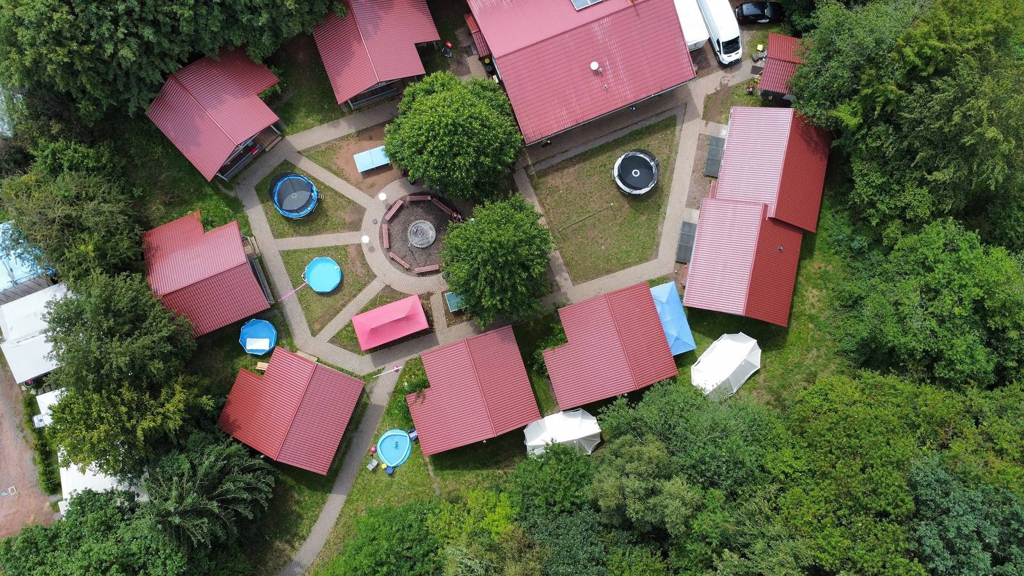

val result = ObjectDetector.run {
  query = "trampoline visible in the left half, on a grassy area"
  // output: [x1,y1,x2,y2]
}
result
[265,169,327,220]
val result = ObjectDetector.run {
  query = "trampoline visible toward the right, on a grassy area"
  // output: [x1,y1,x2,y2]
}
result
[611,145,663,196]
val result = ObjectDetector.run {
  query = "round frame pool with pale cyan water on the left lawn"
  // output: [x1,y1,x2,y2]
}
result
[299,257,343,294]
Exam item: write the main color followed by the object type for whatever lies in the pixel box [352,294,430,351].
pink gazebo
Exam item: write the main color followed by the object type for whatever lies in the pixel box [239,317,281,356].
blue swimming pool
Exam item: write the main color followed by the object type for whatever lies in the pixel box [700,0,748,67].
white van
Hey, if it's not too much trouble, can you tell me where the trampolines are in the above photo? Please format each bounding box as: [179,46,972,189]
[265,169,327,220]
[611,145,663,196]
